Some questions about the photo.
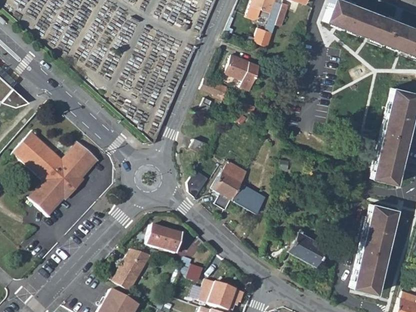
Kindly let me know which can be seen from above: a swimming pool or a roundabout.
roundabout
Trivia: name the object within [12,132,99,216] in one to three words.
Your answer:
building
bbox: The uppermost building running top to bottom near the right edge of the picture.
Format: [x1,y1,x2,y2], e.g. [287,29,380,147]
[369,90,416,188]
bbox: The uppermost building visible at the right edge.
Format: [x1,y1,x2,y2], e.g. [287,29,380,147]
[322,0,416,62]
